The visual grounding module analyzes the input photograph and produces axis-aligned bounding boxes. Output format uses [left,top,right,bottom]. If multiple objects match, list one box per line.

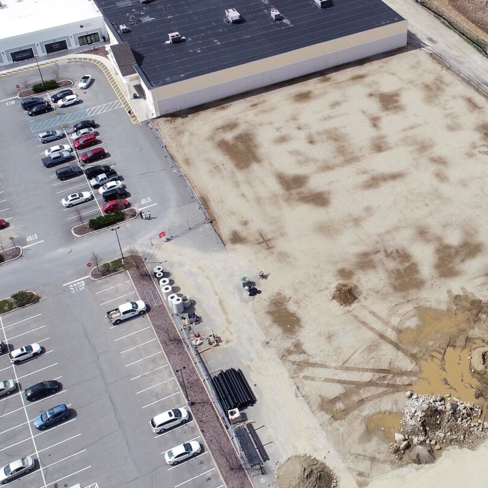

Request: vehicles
[37,150,73,167]
[28,104,54,117]
[19,96,48,111]
[96,180,125,195]
[0,336,7,354]
[71,127,96,141]
[0,457,36,485]
[7,343,44,365]
[26,381,61,404]
[71,119,98,133]
[81,148,107,163]
[101,187,131,203]
[89,171,121,190]
[57,94,82,108]
[33,404,71,431]
[162,441,203,468]
[74,134,99,150]
[78,76,92,90]
[44,144,71,155]
[37,131,64,144]
[53,166,84,183]
[149,409,190,436]
[102,200,131,213]
[84,165,112,180]
[106,302,148,326]
[50,90,74,103]
[0,379,17,397]
[61,193,92,208]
